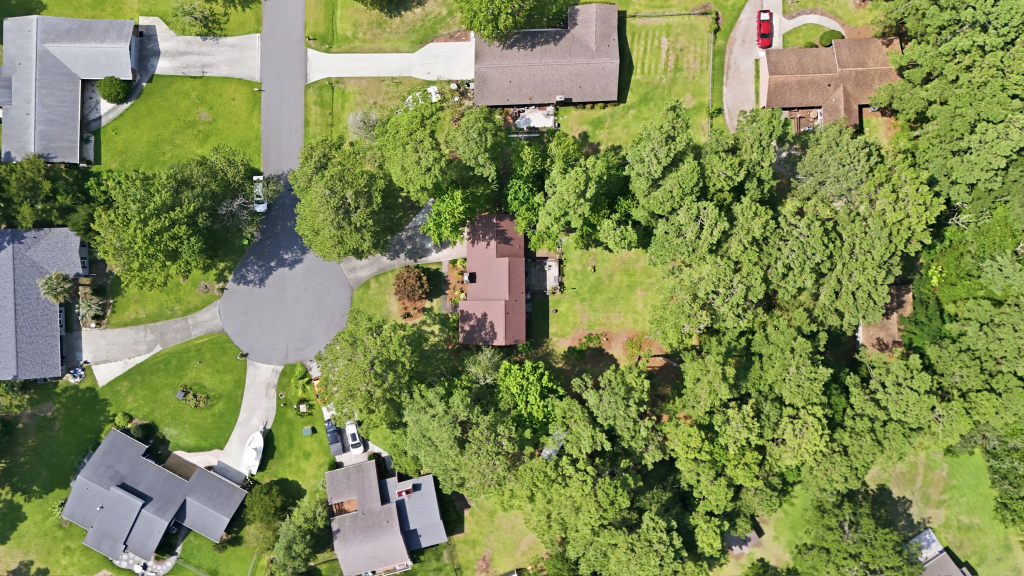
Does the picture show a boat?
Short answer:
Yes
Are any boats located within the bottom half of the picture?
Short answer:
Yes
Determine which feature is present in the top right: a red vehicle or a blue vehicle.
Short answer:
red vehicle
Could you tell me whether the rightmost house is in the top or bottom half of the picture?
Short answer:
bottom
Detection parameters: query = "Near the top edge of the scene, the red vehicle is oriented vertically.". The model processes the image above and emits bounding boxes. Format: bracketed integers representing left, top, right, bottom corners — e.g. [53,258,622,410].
[758,8,775,47]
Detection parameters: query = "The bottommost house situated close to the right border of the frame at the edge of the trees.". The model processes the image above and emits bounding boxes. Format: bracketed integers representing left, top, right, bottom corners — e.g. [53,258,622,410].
[904,525,973,576]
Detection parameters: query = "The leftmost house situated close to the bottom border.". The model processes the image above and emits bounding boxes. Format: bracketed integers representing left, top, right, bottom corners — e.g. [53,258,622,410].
[61,428,248,562]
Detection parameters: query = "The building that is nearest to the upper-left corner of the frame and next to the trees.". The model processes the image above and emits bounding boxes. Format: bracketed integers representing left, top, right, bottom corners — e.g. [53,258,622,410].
[0,15,141,164]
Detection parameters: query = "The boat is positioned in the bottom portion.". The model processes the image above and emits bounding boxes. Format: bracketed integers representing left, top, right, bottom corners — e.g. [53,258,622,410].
[239,430,263,482]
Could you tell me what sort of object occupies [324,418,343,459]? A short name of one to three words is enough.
vehicle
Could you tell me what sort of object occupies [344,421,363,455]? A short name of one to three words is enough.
car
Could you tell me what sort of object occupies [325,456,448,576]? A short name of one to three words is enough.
house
